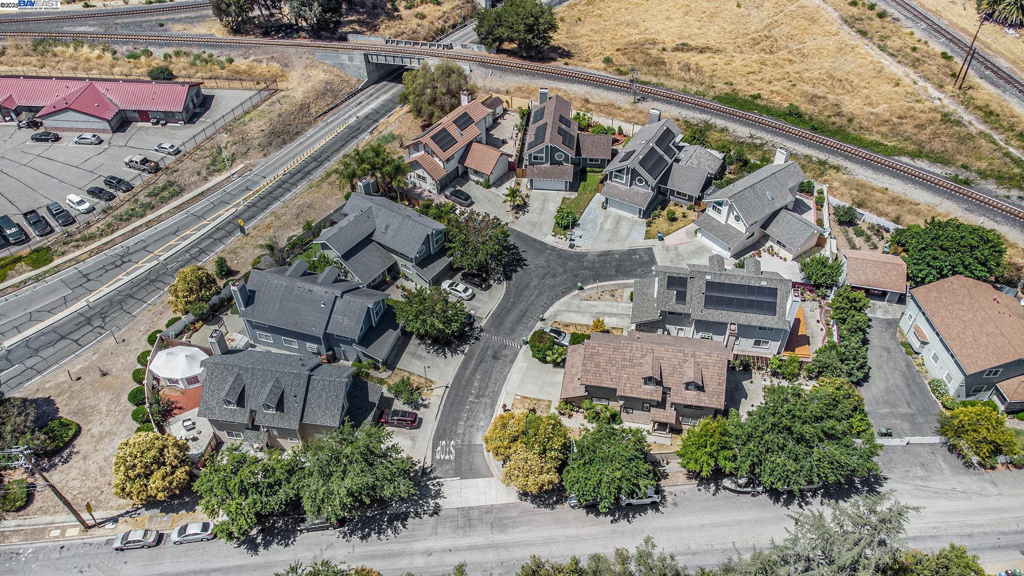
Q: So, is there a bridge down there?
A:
Yes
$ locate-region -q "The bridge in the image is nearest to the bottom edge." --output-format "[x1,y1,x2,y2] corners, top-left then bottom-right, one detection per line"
[319,29,510,86]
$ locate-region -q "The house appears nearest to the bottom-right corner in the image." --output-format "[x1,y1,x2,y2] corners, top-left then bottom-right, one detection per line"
[901,270,1024,414]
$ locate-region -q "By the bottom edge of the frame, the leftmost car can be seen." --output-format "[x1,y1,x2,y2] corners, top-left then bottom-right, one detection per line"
[110,529,158,553]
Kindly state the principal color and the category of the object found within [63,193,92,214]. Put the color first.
white car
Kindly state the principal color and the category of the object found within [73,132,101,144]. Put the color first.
gray vehicle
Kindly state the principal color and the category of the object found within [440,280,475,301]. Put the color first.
white car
